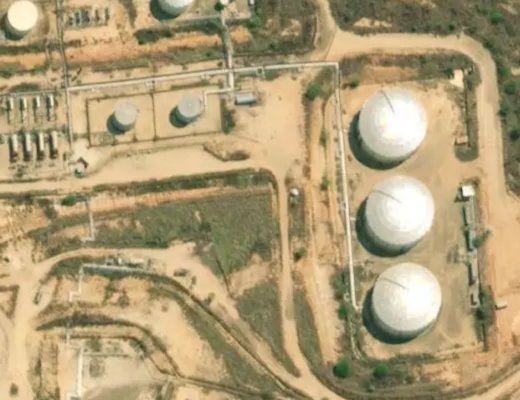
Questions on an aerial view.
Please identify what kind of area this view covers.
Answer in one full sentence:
It's an industrial area.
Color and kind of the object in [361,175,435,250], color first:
white storage tank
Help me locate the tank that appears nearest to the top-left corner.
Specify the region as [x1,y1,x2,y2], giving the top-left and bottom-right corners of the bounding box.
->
[5,0,38,37]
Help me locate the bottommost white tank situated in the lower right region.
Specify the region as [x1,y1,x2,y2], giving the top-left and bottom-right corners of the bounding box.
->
[367,262,442,337]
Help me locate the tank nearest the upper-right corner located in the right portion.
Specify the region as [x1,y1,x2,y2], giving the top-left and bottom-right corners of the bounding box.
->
[354,89,428,165]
